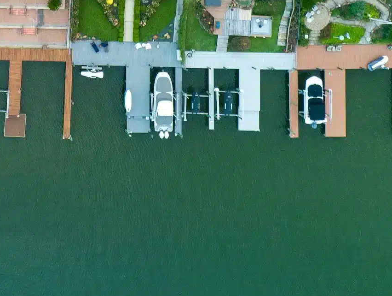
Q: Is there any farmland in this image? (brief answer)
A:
No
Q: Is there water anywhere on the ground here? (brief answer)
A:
Yes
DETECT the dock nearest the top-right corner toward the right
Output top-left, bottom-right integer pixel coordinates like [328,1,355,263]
[279,45,392,137]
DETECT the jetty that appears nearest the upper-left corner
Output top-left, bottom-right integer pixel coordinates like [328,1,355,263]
[0,47,74,141]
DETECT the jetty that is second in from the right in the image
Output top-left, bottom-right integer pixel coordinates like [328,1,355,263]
[185,52,295,131]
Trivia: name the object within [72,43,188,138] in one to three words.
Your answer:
pier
